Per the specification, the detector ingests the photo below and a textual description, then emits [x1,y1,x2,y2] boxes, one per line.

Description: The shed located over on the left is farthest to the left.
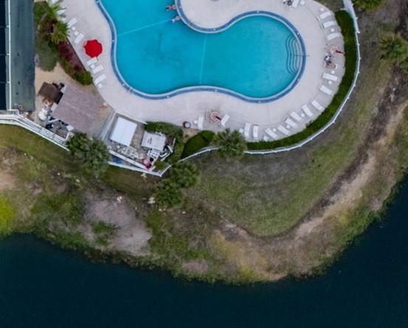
[36,81,60,102]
